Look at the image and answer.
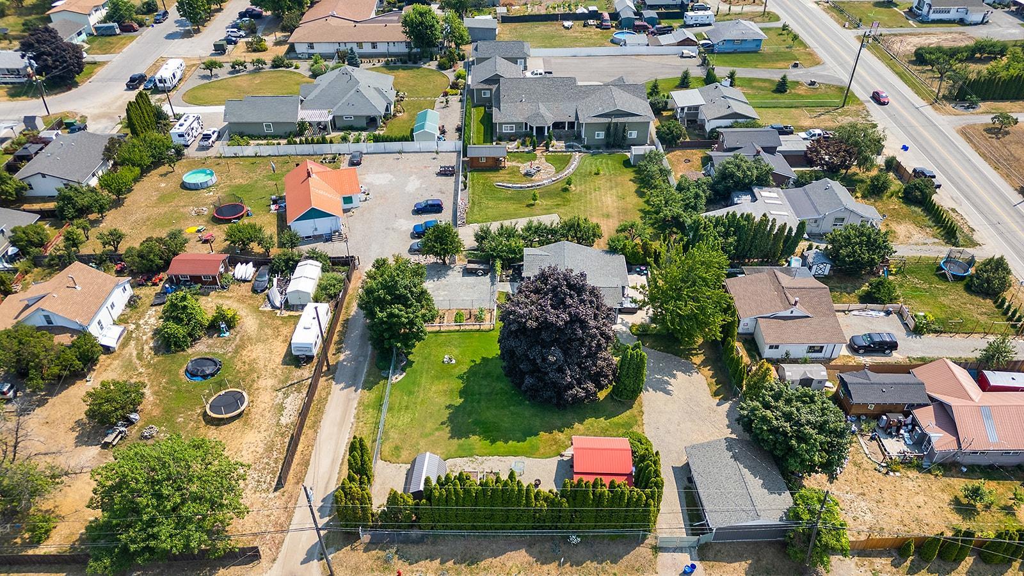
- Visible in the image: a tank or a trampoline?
trampoline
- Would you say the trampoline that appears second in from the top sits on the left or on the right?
right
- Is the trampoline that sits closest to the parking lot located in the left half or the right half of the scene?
left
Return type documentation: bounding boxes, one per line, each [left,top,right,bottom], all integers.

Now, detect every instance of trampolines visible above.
[201,376,251,423]
[209,191,249,221]
[935,242,982,281]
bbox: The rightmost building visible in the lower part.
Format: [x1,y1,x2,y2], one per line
[914,363,1024,468]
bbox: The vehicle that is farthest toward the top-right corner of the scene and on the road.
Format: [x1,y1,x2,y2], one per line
[873,89,890,102]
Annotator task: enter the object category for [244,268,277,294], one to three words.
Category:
car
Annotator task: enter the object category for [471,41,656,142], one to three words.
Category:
house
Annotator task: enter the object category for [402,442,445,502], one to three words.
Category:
shed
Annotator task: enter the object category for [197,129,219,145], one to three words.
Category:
vehicle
